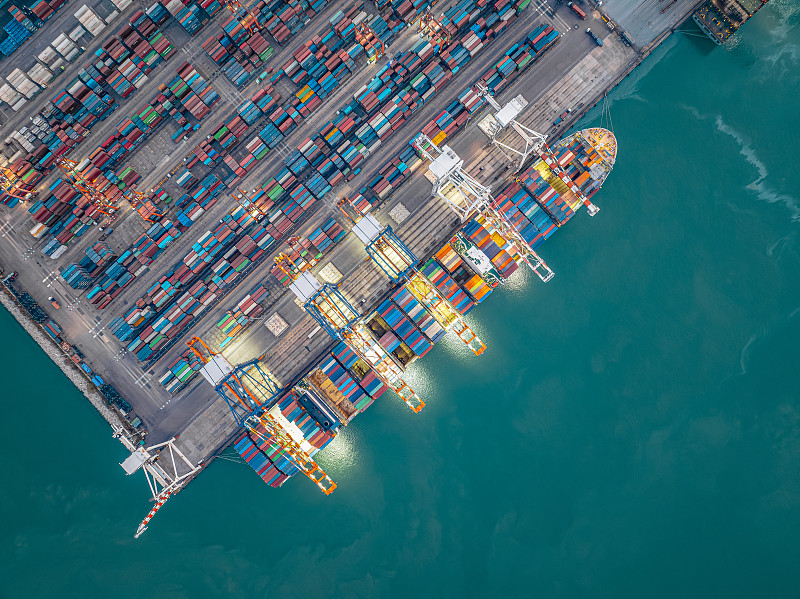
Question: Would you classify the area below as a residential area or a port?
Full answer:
It's a port.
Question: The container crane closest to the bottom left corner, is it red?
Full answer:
No, the container crane closest to the bottom left corner is white.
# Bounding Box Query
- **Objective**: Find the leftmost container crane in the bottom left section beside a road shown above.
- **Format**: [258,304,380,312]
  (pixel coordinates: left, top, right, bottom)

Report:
[109,428,209,543]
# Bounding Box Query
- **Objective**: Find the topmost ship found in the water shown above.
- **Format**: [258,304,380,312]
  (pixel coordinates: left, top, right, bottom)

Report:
[689,0,766,47]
